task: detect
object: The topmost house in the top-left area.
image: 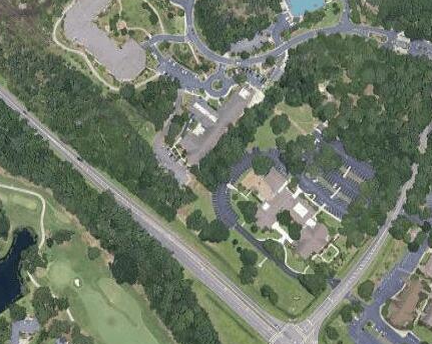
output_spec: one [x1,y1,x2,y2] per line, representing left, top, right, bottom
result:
[65,0,147,82]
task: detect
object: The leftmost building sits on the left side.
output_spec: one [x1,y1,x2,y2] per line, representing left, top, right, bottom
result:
[9,316,43,344]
